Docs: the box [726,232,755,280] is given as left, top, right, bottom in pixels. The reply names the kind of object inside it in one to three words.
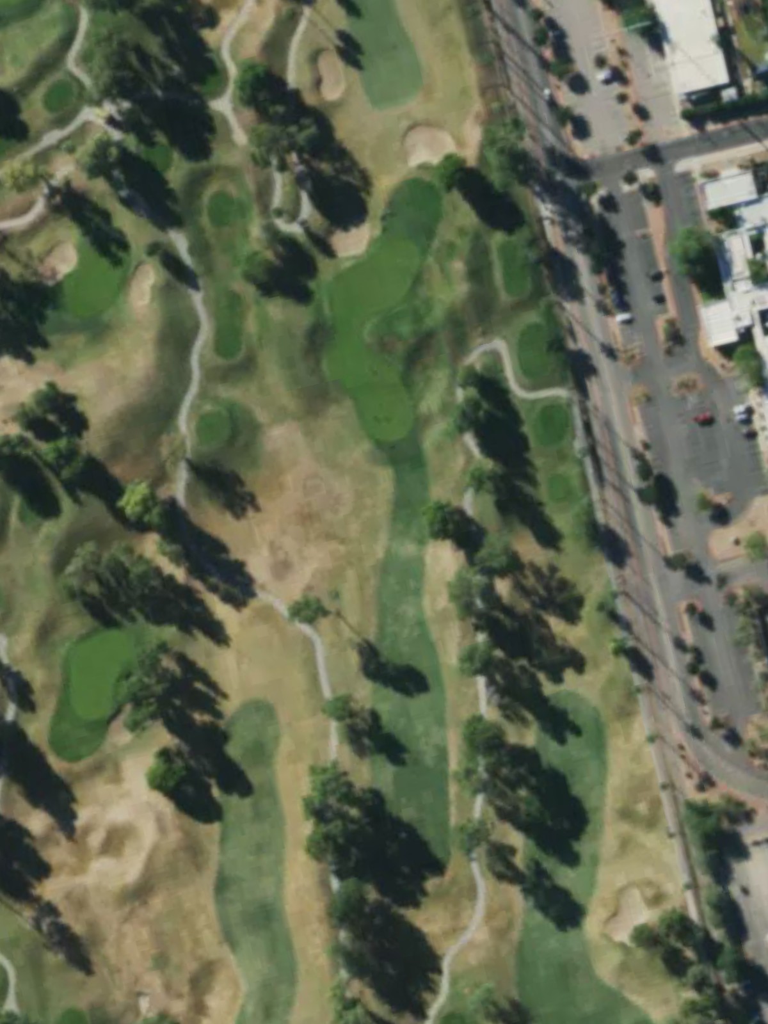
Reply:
building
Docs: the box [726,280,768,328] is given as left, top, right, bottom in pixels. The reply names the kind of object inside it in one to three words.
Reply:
building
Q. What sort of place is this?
golf course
